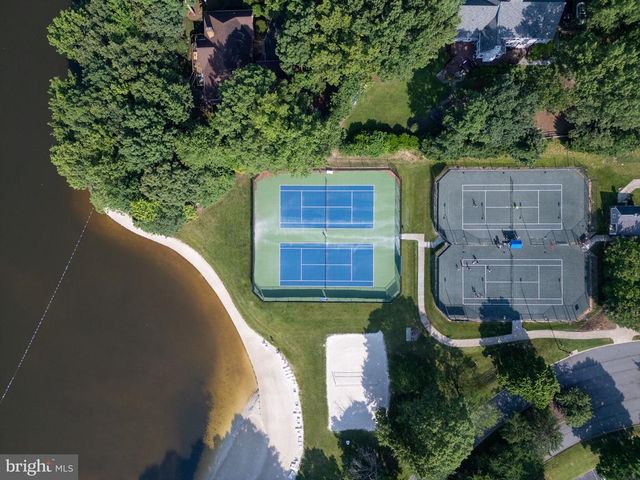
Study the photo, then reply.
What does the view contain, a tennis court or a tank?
tennis court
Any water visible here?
Yes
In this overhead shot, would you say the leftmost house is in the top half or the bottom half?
top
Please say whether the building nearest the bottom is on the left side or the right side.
right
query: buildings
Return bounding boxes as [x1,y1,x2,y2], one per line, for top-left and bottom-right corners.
[612,206,640,234]
[188,11,255,89]
[446,0,566,67]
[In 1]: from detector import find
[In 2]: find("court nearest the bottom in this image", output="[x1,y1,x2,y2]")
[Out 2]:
[325,331,389,432]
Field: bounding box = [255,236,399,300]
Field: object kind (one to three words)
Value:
tennis court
